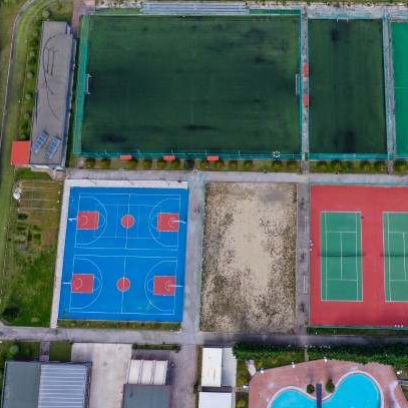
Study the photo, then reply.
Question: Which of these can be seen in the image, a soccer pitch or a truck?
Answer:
soccer pitch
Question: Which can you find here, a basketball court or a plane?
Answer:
basketball court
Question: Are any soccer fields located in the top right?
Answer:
Yes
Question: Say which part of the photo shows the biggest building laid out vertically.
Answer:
top left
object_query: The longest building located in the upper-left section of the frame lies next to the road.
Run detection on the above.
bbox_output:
[11,21,77,172]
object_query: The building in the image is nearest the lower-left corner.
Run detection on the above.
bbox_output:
[1,359,97,408]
